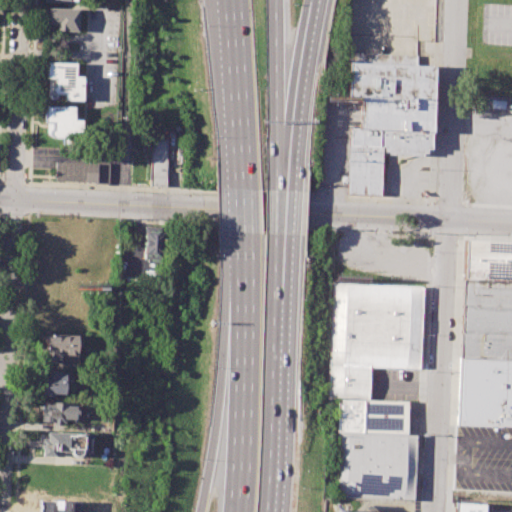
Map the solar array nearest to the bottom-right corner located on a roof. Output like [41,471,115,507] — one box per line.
[362,475,402,496]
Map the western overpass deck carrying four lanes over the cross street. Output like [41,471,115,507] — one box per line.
[220,189,264,235]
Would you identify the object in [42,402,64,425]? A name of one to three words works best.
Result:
house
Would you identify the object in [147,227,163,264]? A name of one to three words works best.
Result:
house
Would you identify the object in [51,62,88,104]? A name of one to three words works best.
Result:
building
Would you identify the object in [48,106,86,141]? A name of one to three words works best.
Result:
building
